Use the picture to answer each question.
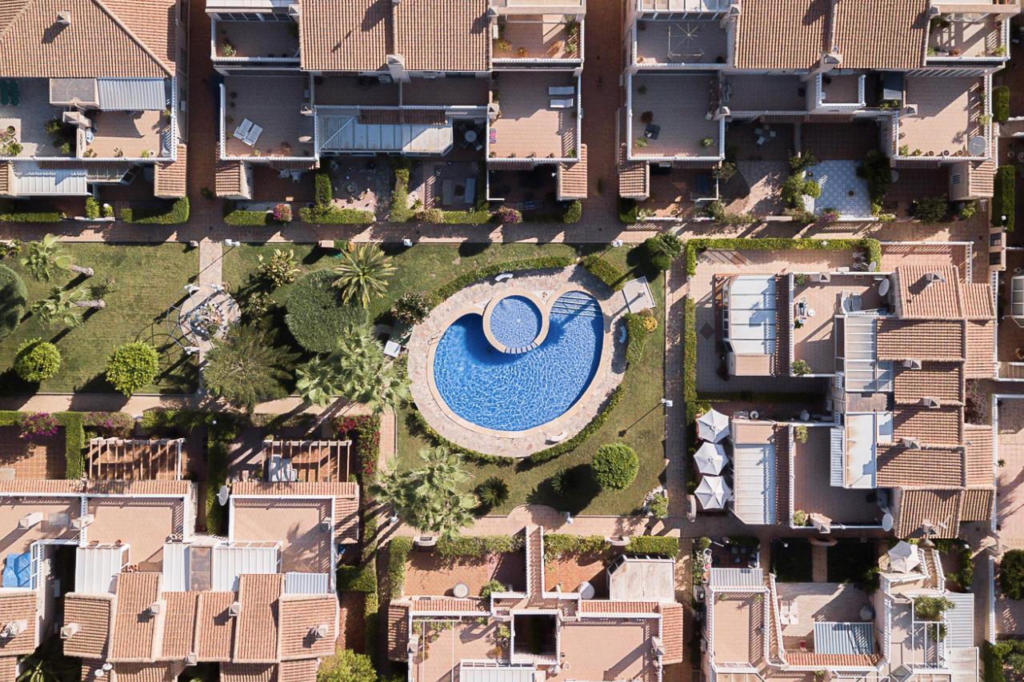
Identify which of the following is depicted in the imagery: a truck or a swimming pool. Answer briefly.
swimming pool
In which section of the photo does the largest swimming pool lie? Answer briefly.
center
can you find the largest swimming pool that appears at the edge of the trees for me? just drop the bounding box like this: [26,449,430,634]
[425,283,611,438]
